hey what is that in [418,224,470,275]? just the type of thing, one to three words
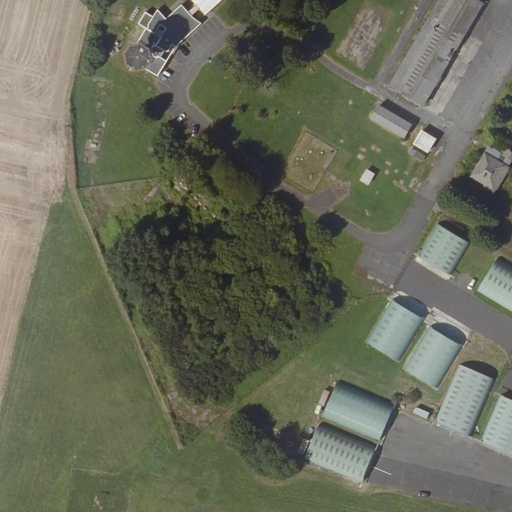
shed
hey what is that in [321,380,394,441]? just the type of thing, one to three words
shed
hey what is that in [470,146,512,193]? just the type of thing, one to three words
house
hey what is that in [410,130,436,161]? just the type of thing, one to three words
building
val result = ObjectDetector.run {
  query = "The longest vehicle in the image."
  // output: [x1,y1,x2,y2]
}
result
[313,389,329,415]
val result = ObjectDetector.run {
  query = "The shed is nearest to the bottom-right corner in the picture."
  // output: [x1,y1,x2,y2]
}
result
[482,396,512,454]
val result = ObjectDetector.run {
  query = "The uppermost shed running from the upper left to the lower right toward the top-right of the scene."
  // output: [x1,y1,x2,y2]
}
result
[370,105,413,139]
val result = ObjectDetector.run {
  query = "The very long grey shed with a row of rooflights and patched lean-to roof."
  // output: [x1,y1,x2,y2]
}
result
[388,0,488,106]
